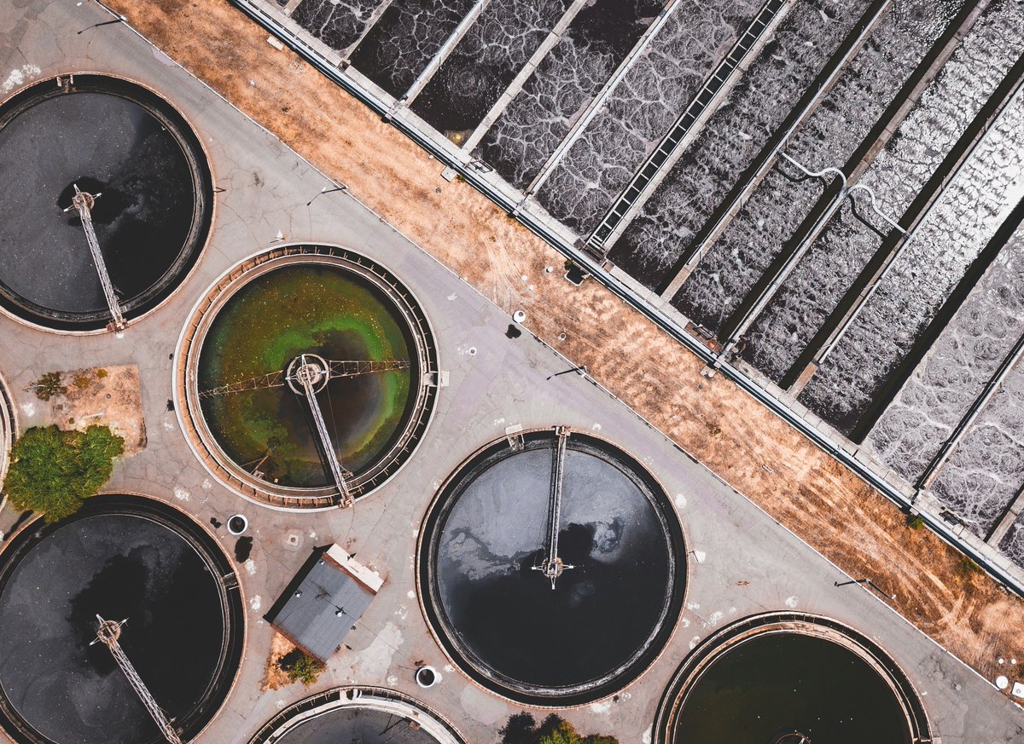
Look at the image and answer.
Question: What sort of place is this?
industrial area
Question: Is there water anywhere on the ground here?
Yes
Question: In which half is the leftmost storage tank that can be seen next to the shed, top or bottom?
bottom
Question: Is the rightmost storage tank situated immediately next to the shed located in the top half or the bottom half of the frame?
bottom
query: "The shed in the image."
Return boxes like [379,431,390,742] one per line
[272,543,384,661]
